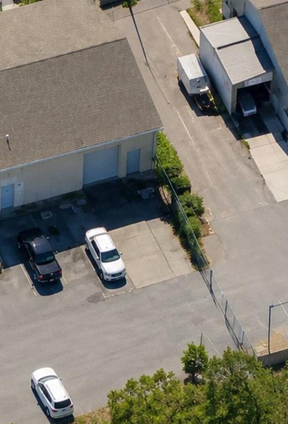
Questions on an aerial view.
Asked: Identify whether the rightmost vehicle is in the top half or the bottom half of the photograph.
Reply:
top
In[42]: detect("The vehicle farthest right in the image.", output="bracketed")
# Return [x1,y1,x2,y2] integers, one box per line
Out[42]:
[239,85,267,117]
